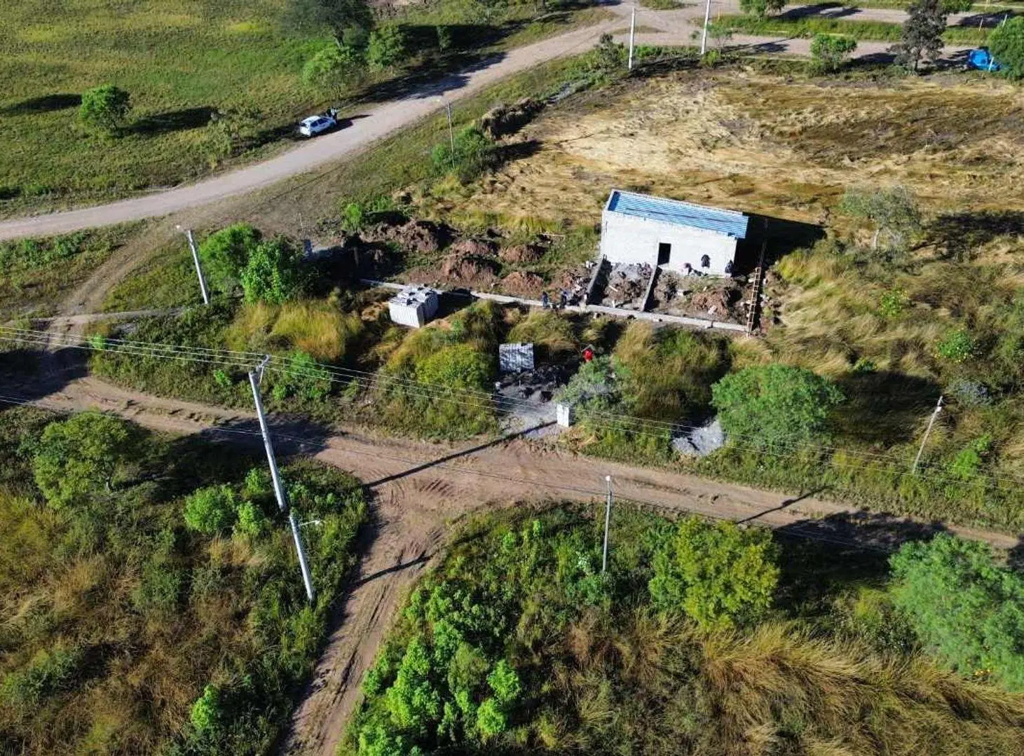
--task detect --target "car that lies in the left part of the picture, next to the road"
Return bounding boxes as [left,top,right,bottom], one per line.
[300,115,336,136]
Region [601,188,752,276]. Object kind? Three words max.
building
